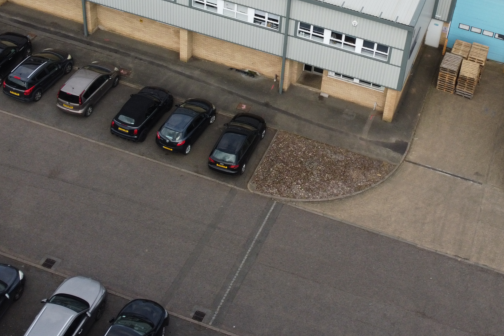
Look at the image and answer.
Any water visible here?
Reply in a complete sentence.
No, water can't be seen anywhere here.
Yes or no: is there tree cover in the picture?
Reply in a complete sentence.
No, the picture contains no tree cover.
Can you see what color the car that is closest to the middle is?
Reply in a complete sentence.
From above, the car that is closest to the middle appears black.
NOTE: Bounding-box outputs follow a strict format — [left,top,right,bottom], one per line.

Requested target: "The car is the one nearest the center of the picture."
[204,113,267,177]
